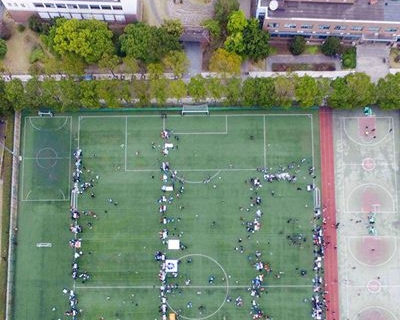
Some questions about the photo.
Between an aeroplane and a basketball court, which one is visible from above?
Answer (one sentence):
The image shows a basketball court.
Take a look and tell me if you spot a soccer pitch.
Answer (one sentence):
Yes, there's a soccer pitch here.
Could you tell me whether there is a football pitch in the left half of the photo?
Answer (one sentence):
Yes, a football pitch can be seen in the left half of the photo.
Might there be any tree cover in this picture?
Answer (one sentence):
Yes, some tree cover is visible.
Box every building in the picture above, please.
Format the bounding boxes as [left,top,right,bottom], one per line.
[0,0,139,23]
[248,0,400,40]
